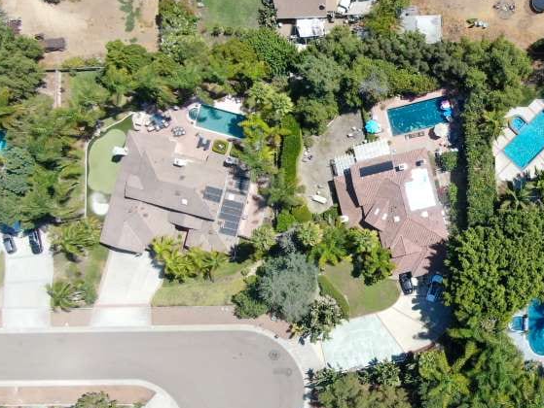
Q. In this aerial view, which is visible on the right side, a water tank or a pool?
pool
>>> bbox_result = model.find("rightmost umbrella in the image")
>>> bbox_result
[433,122,450,138]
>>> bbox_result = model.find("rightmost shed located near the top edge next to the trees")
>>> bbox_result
[401,7,443,42]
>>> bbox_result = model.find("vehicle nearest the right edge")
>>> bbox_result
[426,274,444,302]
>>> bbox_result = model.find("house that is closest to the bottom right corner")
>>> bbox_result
[334,147,451,281]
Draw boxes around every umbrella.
[365,119,382,134]
[150,110,166,126]
[433,122,450,138]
